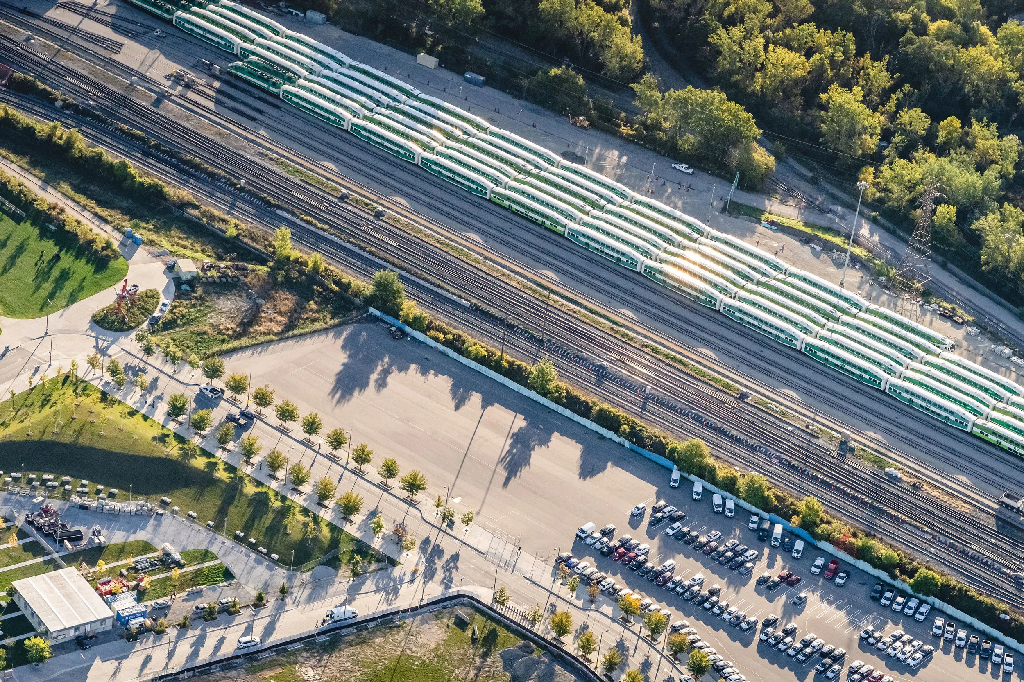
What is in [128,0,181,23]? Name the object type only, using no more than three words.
rail car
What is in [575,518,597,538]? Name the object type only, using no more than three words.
vehicle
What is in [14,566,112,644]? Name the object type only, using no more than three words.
building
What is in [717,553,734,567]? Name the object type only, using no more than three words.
car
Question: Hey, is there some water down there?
No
